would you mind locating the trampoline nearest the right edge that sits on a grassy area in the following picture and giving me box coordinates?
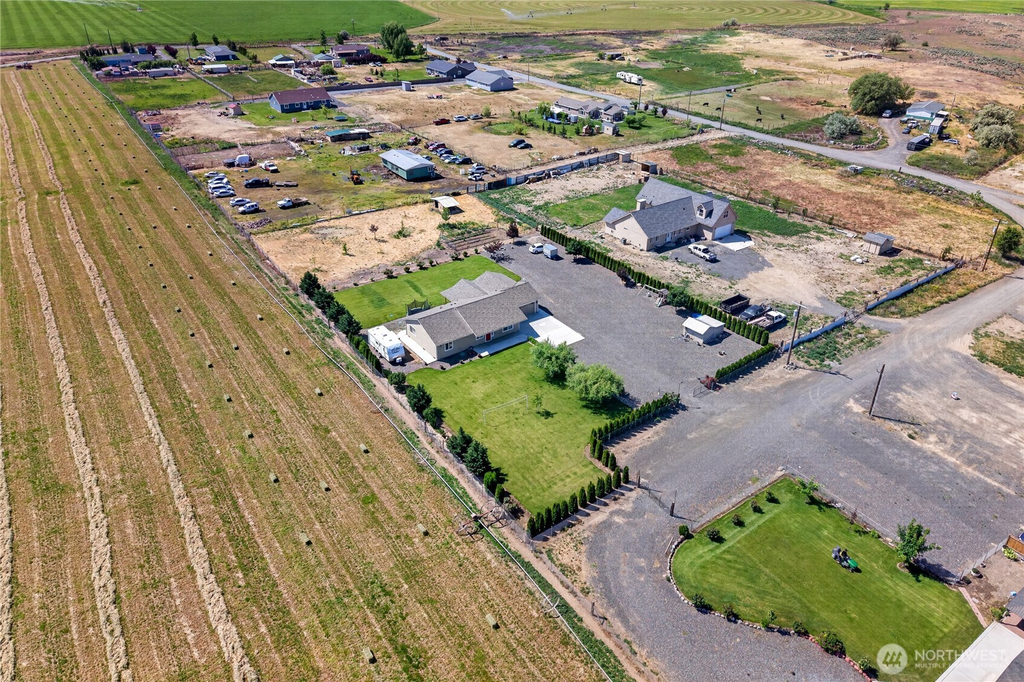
[404,291,430,312]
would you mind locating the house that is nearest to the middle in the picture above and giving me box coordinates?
[397,271,546,360]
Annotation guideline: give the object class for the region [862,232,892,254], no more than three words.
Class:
shed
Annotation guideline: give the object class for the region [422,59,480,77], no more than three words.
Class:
house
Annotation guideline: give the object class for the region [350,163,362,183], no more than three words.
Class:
vehicle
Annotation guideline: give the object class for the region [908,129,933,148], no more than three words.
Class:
vehicle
